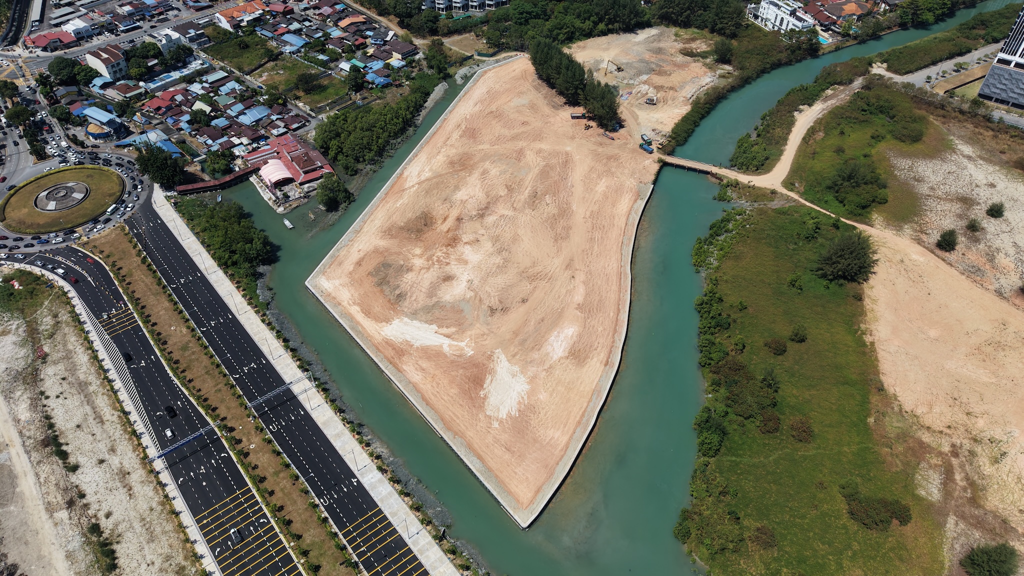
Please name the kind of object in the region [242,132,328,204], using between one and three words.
building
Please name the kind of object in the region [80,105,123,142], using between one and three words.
building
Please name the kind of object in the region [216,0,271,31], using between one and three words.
house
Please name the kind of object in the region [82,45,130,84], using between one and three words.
house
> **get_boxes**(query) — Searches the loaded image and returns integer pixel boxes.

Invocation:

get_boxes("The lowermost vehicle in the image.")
[230,527,243,544]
